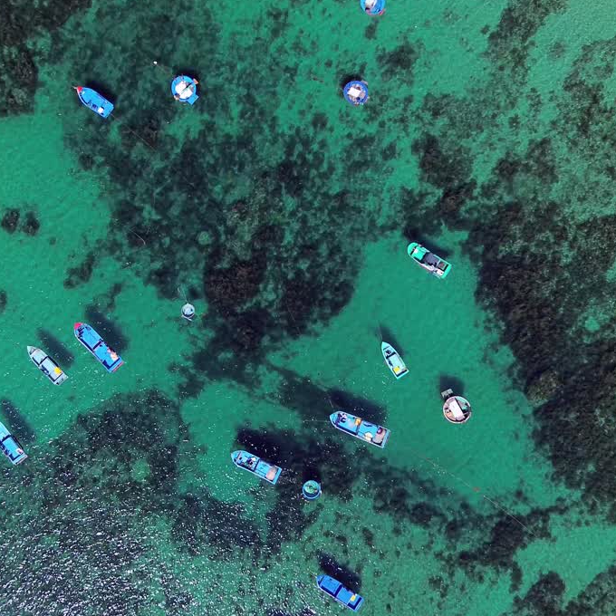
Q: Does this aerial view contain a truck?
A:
No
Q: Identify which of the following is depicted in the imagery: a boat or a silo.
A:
boat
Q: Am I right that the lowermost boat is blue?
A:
Yes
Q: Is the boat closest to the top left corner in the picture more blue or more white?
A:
blue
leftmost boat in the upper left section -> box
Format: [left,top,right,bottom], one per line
[72,84,116,119]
